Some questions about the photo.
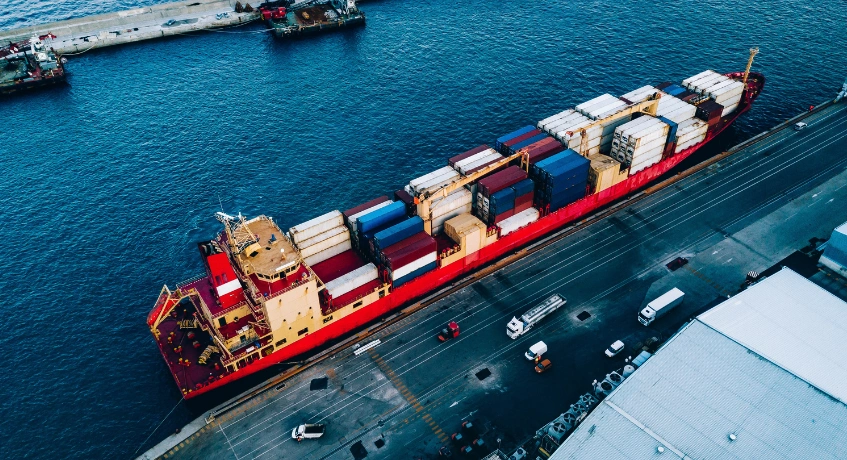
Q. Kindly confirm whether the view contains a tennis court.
No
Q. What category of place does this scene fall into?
port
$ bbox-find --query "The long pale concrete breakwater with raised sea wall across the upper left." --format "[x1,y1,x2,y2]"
[0,0,356,66]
